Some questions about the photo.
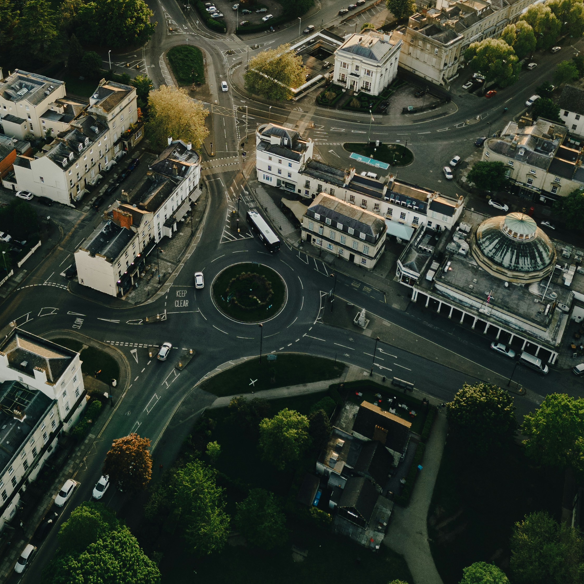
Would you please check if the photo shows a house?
Yes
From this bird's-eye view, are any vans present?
Yes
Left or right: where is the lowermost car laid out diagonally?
left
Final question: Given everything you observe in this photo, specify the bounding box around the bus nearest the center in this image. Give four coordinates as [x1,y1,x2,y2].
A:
[246,207,284,257]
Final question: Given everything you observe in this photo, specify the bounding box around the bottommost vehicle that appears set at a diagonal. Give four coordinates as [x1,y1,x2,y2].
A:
[13,541,39,576]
